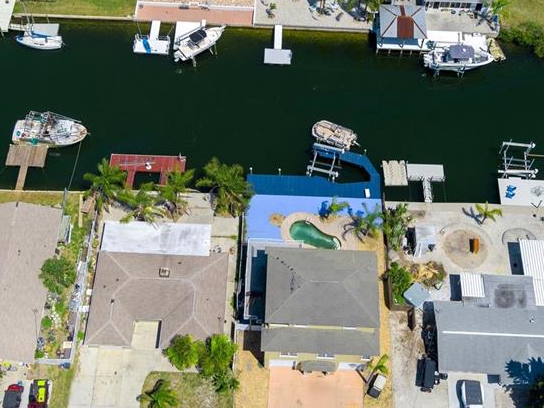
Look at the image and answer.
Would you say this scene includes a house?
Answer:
Yes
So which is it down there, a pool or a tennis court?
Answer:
pool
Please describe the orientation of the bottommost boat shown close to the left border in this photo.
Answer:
from side to side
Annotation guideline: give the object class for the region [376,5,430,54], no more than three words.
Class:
building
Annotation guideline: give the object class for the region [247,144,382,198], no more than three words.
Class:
pier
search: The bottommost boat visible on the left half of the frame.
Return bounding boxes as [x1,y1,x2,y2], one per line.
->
[10,110,89,143]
